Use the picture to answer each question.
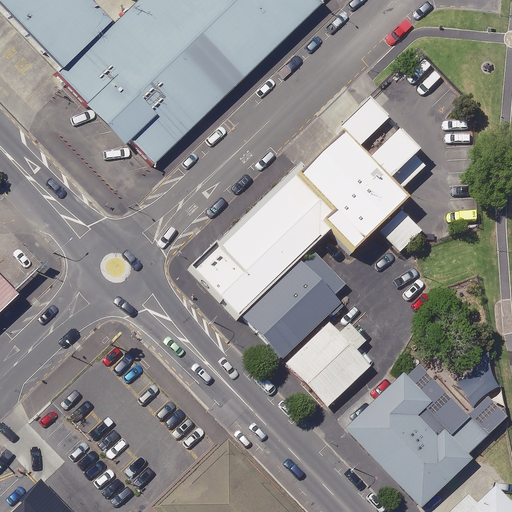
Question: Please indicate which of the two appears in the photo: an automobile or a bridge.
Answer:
automobile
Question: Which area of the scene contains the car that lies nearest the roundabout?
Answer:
left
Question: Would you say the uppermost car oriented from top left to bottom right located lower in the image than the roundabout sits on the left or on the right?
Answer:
left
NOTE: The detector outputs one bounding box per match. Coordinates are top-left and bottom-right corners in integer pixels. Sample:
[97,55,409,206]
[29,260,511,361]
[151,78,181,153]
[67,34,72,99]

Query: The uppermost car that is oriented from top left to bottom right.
[46,176,68,198]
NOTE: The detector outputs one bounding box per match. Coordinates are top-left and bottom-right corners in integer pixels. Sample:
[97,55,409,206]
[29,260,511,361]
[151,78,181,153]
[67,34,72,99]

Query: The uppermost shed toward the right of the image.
[338,97,388,144]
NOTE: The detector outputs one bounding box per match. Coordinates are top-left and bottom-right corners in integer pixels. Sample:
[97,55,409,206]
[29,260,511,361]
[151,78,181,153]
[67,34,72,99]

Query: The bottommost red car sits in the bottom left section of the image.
[38,410,58,428]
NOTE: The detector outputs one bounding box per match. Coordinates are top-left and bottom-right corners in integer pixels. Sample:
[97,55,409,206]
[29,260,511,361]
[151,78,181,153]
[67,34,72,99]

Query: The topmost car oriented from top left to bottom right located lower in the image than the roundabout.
[114,297,138,317]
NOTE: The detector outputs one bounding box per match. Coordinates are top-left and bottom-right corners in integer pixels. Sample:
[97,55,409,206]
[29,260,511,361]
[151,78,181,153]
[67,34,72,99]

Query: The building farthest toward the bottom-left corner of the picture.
[8,480,72,512]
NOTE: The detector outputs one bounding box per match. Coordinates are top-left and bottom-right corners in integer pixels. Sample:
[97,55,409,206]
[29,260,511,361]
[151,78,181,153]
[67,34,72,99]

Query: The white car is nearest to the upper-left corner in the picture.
[70,111,96,126]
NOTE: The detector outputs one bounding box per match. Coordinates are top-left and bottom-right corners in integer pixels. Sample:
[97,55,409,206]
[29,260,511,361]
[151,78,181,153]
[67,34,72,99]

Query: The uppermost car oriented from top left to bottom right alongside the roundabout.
[122,249,144,272]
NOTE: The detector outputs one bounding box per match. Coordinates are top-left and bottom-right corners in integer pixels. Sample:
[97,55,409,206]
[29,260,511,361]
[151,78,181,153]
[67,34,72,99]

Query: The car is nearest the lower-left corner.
[6,487,26,506]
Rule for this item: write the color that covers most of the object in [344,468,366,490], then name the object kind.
black car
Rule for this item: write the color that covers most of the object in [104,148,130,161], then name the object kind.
white vehicle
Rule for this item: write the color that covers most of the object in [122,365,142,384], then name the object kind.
blue car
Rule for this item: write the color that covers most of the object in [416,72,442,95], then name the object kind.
white vehicle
